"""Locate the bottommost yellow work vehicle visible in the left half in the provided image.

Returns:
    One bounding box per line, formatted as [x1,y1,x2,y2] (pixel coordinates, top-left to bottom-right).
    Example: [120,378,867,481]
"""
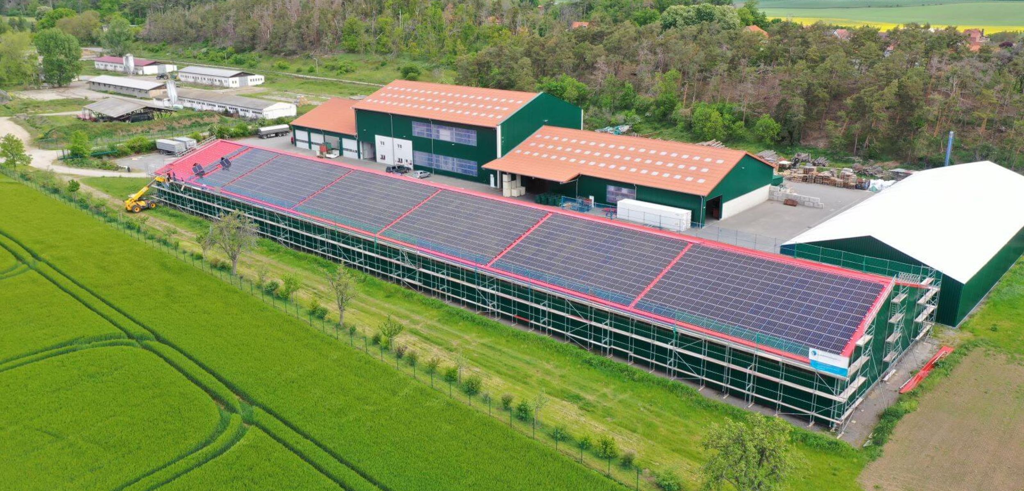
[120,173,166,213]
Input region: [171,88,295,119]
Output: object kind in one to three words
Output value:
shed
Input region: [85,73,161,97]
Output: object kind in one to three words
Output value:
shed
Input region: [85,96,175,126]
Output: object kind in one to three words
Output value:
barn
